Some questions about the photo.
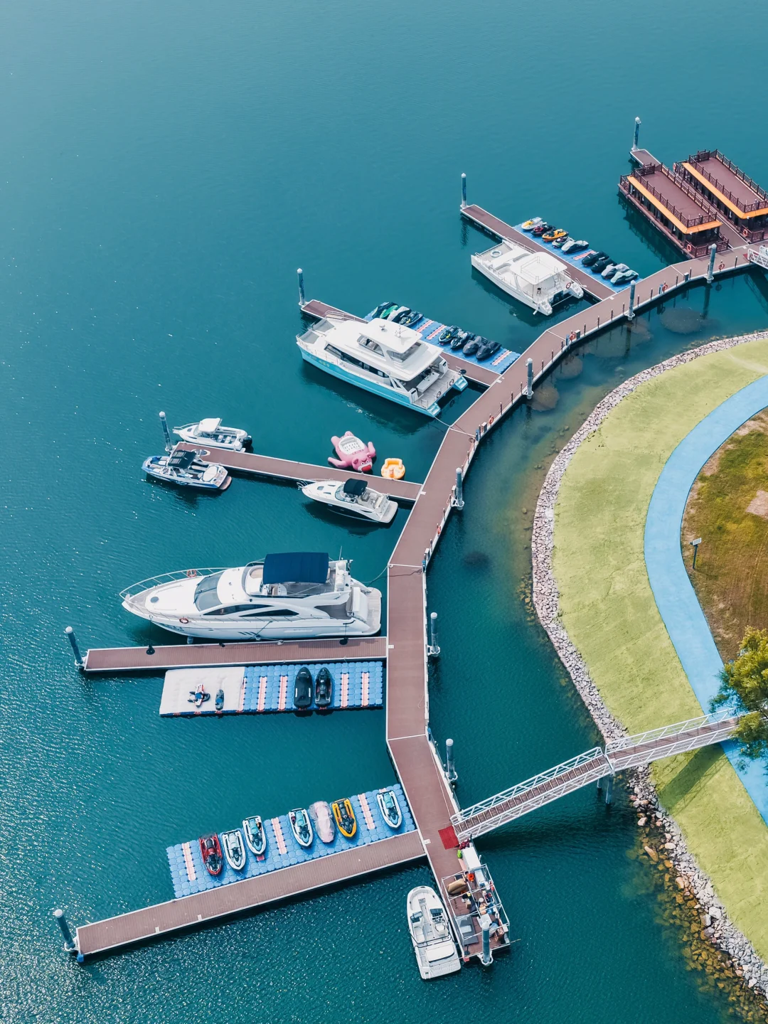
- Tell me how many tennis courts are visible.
0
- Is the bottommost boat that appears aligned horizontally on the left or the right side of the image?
left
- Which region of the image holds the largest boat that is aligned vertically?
bottom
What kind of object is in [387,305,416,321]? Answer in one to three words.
boat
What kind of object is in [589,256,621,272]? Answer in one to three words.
boat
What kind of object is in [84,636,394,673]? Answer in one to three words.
pier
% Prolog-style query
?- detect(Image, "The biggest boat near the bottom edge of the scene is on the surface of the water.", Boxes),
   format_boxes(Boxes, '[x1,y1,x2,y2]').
[412,884,461,979]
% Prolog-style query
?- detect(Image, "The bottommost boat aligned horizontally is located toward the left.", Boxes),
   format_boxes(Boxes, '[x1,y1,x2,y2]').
[115,553,382,639]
